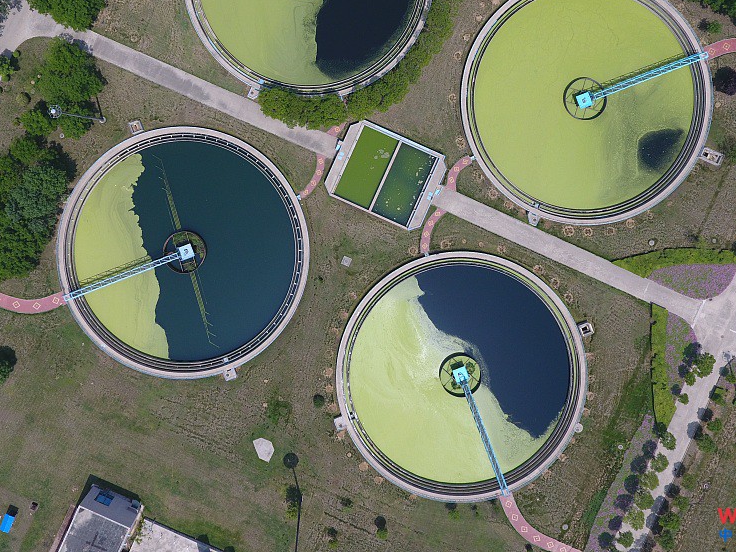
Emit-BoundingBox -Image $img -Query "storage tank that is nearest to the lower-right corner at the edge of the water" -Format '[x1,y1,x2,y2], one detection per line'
[335,250,588,503]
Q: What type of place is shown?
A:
industrial area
